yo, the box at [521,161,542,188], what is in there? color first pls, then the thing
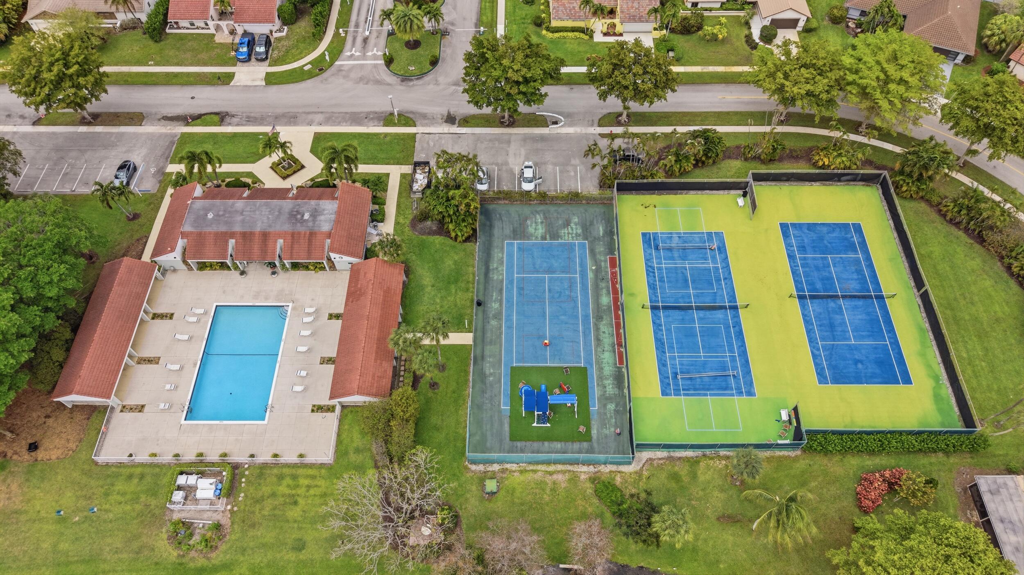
white car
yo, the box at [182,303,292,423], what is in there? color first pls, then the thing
blue swimming pool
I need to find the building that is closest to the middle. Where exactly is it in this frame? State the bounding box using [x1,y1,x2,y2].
[329,256,405,407]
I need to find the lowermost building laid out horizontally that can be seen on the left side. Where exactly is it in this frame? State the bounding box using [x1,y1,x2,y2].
[149,181,372,271]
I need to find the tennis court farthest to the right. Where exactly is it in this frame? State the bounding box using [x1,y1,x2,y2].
[746,185,961,438]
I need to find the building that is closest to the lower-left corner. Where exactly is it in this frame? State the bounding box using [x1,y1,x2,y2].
[51,257,162,407]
